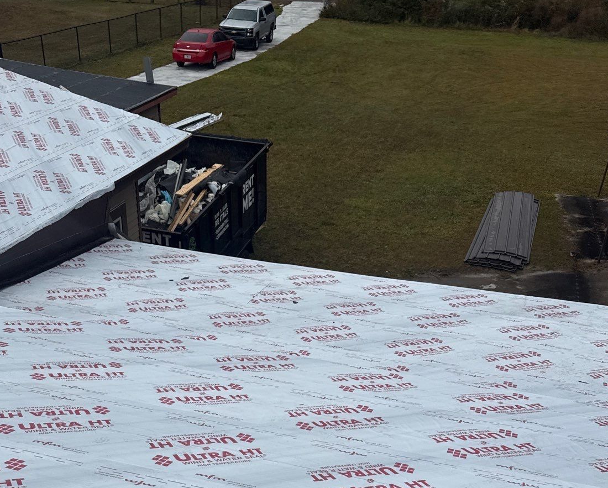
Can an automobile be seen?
Yes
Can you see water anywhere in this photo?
No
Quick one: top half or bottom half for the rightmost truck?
top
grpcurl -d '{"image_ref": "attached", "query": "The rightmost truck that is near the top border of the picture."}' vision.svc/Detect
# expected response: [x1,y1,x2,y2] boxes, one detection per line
[220,2,277,50]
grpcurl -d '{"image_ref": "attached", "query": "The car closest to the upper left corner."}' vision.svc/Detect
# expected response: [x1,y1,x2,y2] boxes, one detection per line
[172,30,239,68]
